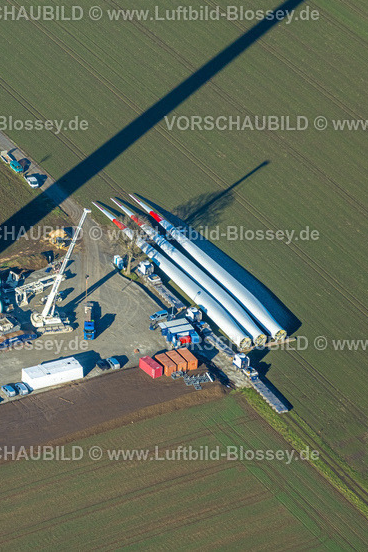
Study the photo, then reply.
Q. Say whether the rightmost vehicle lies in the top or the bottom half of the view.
bottom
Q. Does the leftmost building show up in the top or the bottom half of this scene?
bottom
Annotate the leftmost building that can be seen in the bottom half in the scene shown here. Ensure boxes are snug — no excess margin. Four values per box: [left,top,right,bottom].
[24,364,51,389]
